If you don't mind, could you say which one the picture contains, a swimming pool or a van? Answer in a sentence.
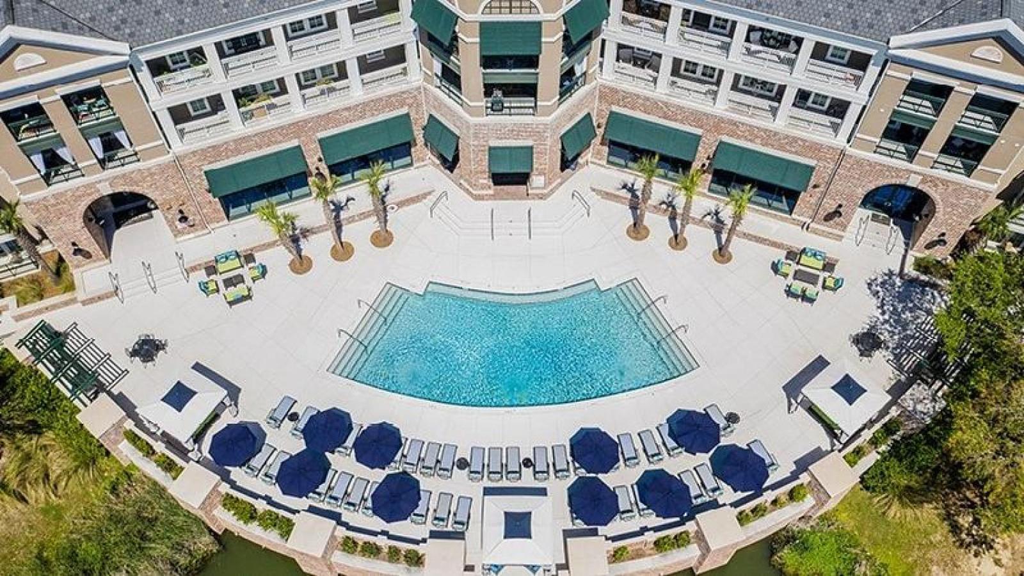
The image shows a swimming pool.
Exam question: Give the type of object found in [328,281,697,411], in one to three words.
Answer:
swimming pool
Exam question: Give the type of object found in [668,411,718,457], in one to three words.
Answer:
umbrella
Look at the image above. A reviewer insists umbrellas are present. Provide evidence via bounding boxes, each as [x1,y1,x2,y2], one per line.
[213,421,267,471]
[569,430,616,474]
[638,469,691,521]
[372,475,421,523]
[276,449,330,499]
[304,411,352,454]
[668,411,718,457]
[712,446,765,498]
[354,425,404,471]
[568,480,616,529]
